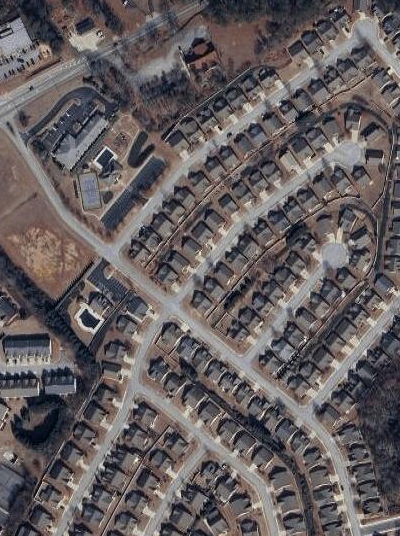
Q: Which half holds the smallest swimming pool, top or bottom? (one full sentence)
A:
Seen from above, the smallest swimming pool lies in the top half of the view.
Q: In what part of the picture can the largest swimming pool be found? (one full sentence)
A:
You can find the largest swimming pool in the left area of the picture.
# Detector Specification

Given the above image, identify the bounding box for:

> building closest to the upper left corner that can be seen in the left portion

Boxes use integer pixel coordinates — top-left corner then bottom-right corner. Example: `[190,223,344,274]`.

[0,19,32,59]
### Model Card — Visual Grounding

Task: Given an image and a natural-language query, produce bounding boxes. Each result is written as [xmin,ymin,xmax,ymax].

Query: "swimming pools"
[74,303,105,335]
[94,146,118,171]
